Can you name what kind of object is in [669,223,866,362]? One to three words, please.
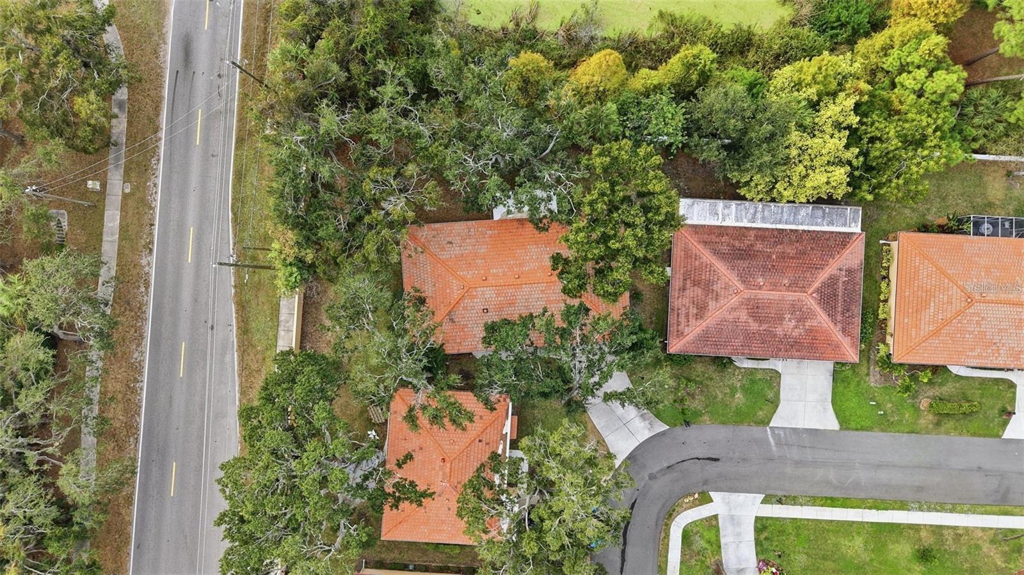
house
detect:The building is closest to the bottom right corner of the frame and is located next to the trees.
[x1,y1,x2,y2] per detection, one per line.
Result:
[884,230,1024,370]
